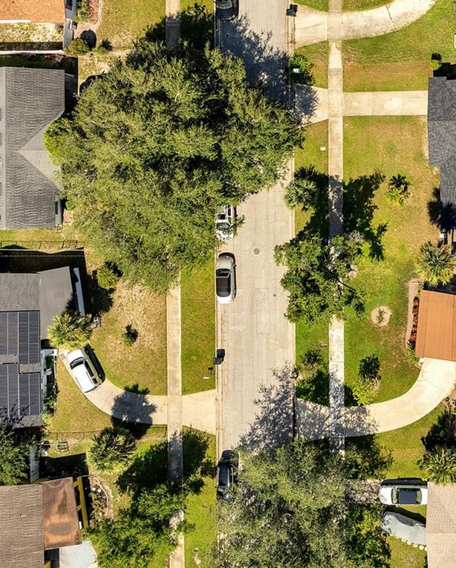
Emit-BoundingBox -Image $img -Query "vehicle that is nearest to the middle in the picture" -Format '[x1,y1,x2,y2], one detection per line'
[213,252,238,304]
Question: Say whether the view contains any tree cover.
Yes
